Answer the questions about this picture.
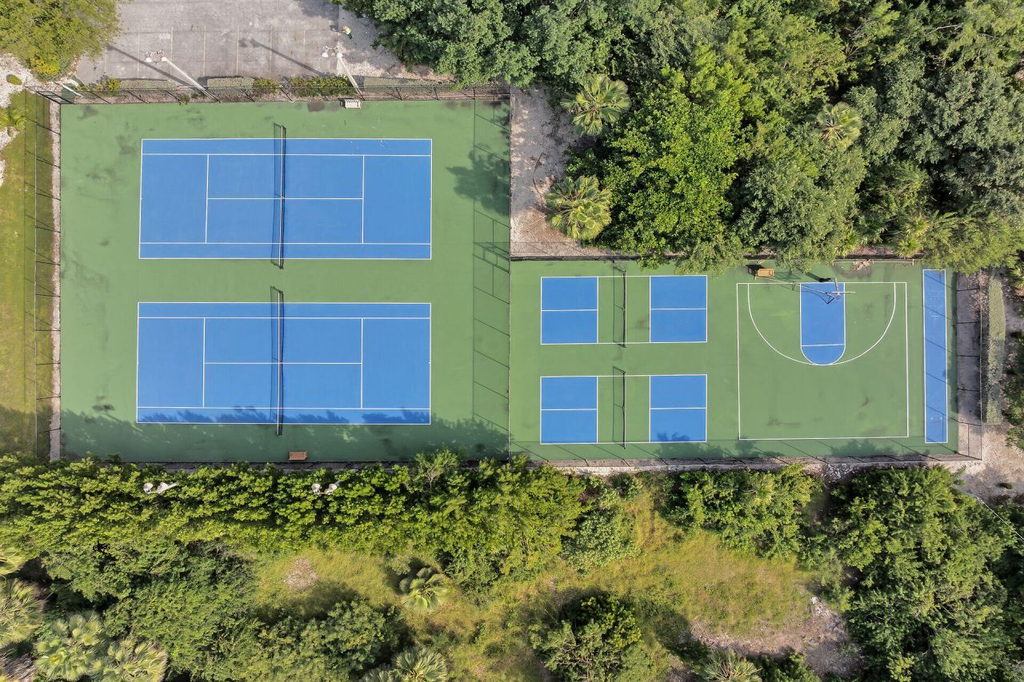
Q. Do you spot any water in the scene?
No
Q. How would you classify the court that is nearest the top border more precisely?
tennis court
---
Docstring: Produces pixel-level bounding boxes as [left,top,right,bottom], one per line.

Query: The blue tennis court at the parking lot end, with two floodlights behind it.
[138,138,432,259]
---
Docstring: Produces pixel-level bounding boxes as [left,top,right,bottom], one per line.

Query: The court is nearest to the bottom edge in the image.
[540,374,707,445]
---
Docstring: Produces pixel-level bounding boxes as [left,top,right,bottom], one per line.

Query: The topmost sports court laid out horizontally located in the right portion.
[541,275,708,345]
